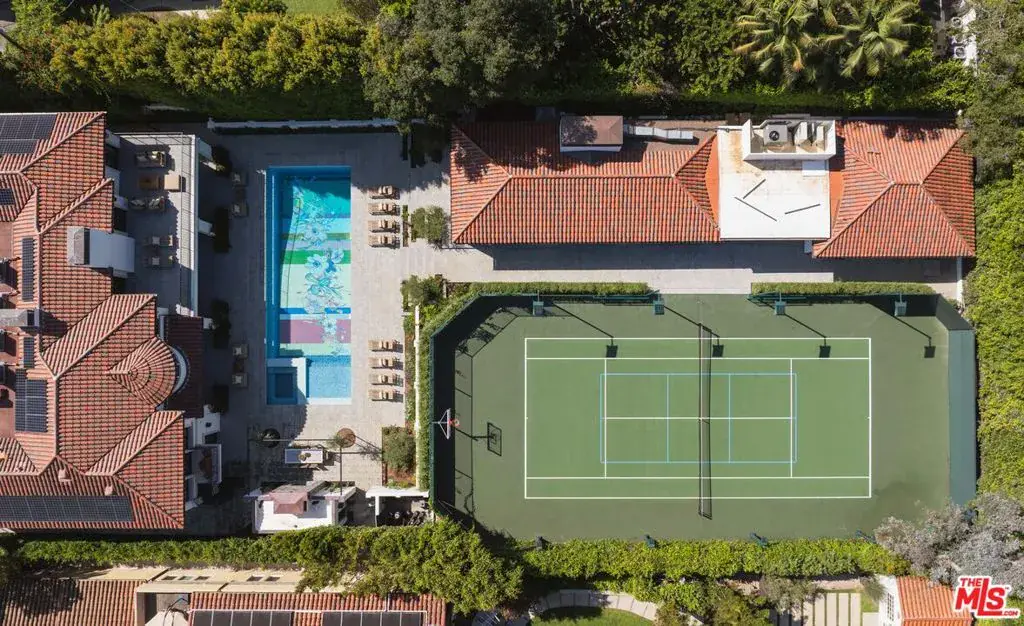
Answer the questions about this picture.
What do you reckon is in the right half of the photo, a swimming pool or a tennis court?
tennis court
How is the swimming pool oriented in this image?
up and down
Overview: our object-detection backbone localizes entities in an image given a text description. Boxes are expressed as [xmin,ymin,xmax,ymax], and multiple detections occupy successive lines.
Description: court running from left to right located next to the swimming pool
[436,296,949,542]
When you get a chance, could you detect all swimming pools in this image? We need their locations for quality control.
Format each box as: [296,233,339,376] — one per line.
[264,164,353,406]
